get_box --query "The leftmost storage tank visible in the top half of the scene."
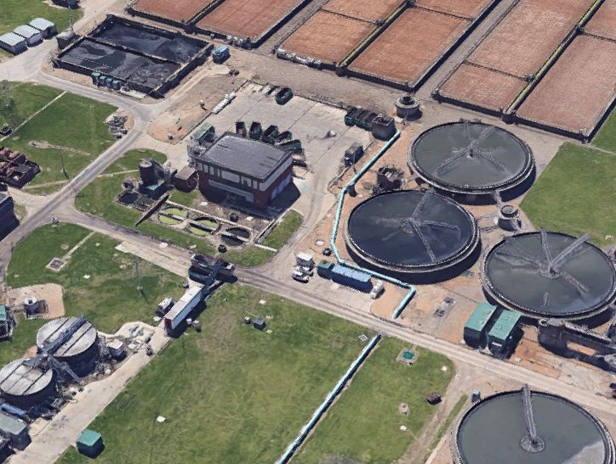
[0,152,47,193]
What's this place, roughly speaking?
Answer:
industrial area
